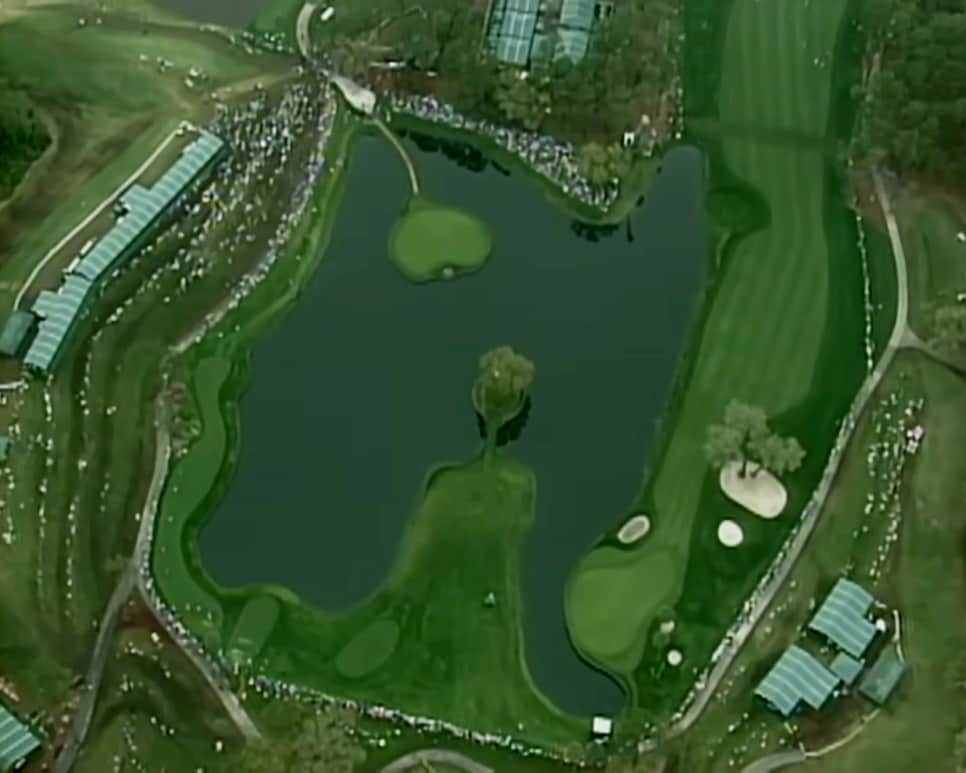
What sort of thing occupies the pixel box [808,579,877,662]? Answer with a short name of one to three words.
building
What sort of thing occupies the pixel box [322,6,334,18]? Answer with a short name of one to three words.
vehicle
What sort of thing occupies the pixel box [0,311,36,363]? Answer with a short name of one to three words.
tent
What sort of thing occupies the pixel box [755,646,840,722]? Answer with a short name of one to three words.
building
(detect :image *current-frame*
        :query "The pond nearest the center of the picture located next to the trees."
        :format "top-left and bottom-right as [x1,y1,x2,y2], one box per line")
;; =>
[199,131,710,720]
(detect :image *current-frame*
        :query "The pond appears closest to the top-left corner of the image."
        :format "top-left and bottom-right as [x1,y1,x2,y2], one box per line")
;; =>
[152,0,268,28]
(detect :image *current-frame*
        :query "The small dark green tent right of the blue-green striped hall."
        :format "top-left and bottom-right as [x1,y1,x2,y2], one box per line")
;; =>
[530,35,547,69]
